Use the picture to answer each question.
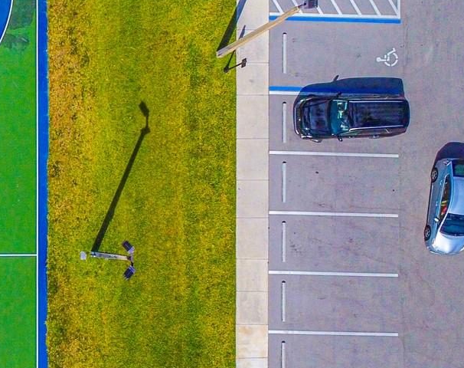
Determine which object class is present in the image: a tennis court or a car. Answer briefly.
car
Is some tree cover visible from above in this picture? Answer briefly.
No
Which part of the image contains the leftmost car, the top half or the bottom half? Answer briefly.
top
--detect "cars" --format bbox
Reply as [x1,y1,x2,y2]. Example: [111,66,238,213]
[292,93,407,143]
[426,158,464,254]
